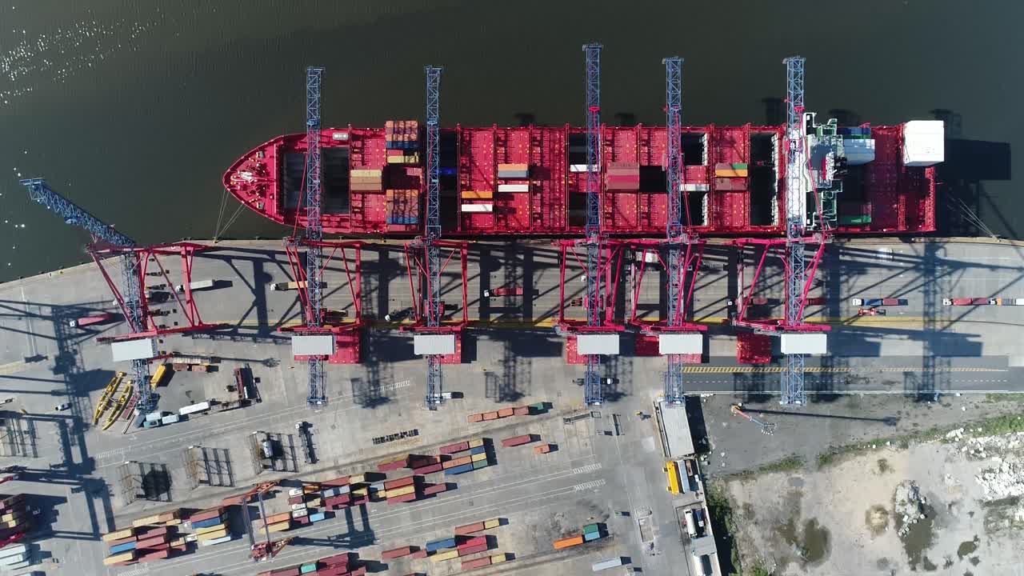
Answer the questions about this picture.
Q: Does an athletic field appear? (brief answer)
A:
No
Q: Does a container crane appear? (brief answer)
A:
Yes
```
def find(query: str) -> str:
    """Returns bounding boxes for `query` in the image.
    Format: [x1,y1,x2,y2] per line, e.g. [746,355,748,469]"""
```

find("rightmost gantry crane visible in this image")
[724,55,838,408]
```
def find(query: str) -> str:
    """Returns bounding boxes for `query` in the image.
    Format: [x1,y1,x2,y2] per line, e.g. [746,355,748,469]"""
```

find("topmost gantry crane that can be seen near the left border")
[13,177,216,416]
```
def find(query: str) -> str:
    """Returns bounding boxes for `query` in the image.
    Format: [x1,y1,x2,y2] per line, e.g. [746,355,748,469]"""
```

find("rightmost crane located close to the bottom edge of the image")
[244,478,293,559]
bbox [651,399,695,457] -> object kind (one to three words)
shed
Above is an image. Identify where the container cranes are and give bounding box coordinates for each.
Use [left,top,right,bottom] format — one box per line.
[273,65,372,408]
[395,65,477,408]
[546,42,630,408]
[13,177,216,416]
[724,55,838,408]
[244,478,293,559]
[619,56,713,408]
